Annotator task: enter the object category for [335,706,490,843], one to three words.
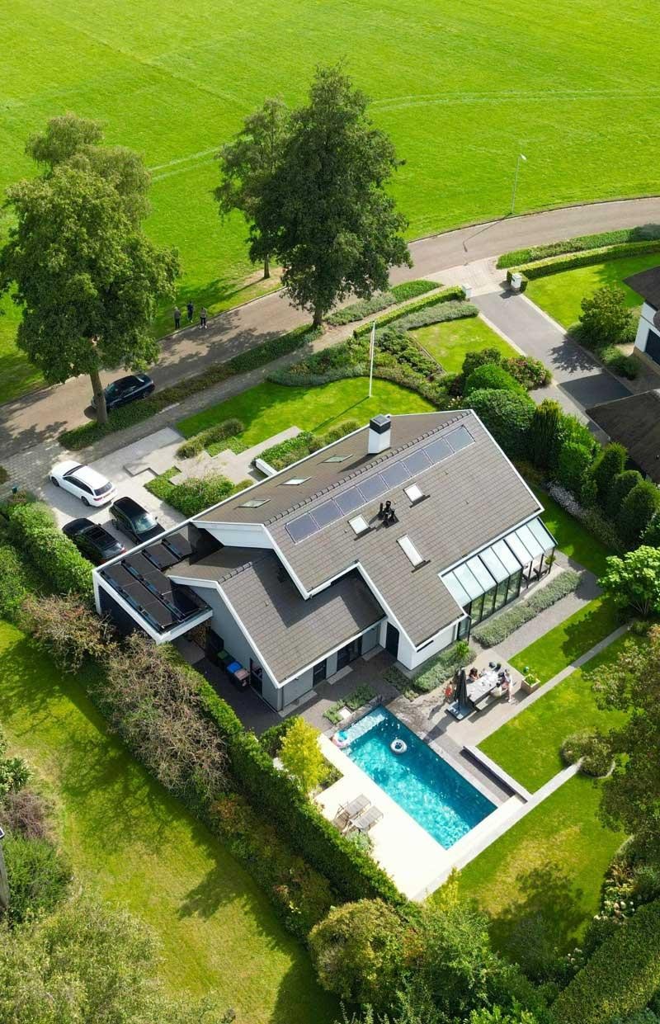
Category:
swimming pool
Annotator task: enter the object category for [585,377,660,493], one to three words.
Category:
house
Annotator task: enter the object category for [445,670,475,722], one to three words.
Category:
umbrella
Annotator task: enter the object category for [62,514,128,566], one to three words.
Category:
car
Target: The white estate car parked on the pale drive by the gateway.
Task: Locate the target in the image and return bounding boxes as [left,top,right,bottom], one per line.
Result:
[49,463,115,510]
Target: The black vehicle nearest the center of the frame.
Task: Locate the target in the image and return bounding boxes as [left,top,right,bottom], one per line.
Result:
[108,496,165,547]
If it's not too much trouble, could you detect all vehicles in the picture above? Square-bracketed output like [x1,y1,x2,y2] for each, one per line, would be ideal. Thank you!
[108,496,165,547]
[102,377,158,415]
[62,514,128,566]
[49,463,115,510]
